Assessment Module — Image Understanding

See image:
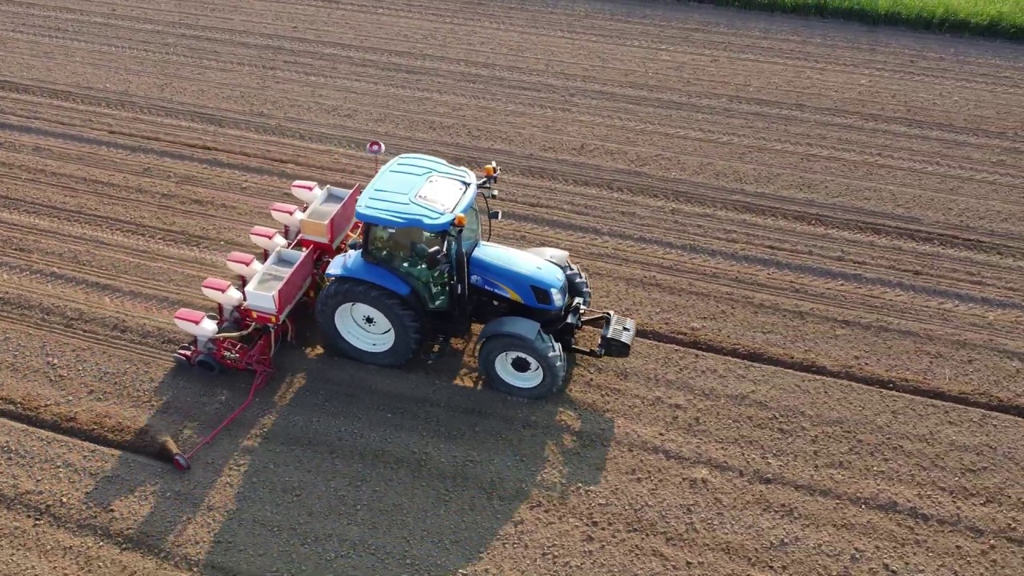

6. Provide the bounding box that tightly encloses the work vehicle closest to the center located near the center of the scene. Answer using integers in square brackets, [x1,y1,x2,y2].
[314,155,605,398]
